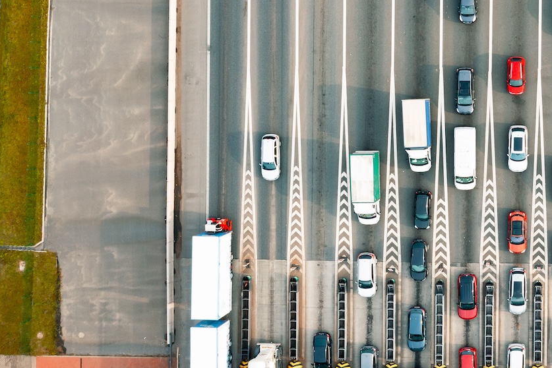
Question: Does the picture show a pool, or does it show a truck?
truck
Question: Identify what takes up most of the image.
paved ground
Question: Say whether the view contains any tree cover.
No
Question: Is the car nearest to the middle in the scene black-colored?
No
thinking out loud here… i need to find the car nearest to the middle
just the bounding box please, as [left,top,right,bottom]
[257,134,282,179]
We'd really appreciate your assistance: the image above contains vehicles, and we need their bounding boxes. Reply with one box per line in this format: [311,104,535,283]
[408,238,429,280]
[453,67,475,113]
[359,344,379,368]
[405,305,427,350]
[506,125,527,171]
[310,331,334,368]
[507,342,525,368]
[506,267,527,313]
[350,148,379,224]
[458,345,477,368]
[505,56,525,95]
[451,128,476,189]
[257,134,282,179]
[355,252,378,297]
[456,0,478,24]
[506,209,526,253]
[455,272,477,320]
[191,320,230,368]
[411,190,433,229]
[403,98,432,171]
[207,214,234,233]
